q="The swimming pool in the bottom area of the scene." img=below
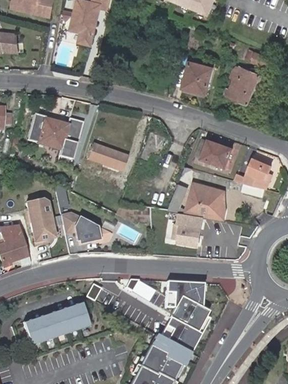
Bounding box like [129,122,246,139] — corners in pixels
[115,224,141,244]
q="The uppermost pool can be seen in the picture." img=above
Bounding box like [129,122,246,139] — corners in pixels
[56,44,74,68]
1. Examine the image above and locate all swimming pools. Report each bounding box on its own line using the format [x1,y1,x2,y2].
[115,224,141,244]
[56,44,74,68]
